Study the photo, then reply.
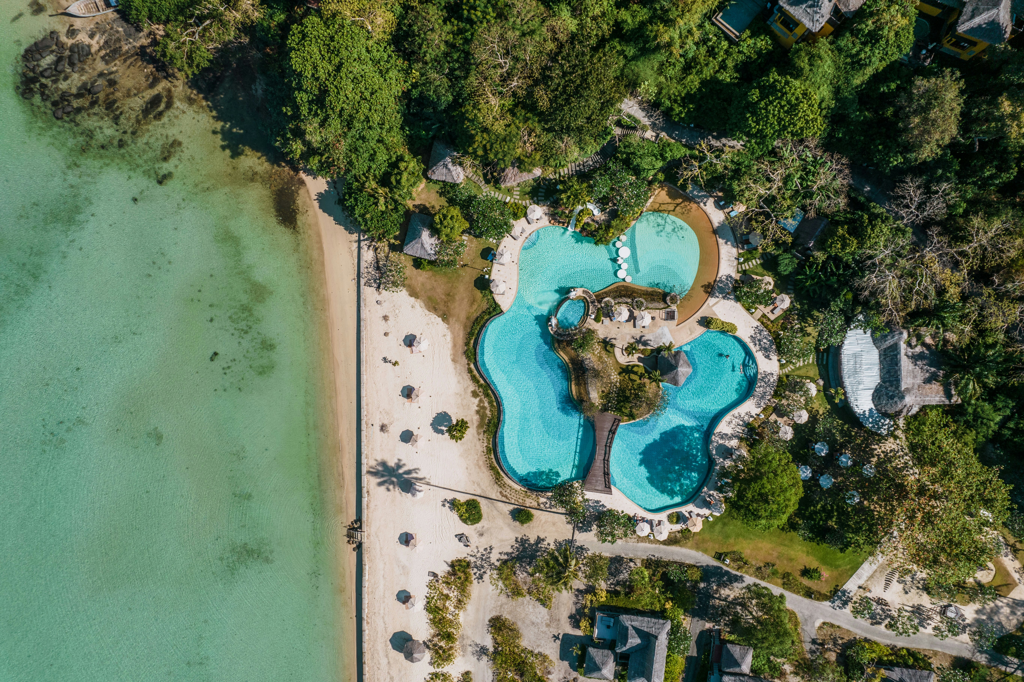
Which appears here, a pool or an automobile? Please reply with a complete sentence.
Looking from above, you can make out a pool.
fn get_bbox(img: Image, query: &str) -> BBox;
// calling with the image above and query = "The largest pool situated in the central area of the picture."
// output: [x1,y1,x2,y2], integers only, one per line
[479,211,758,513]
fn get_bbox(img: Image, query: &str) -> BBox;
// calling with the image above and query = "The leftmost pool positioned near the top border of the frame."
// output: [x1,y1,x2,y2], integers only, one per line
[711,0,774,40]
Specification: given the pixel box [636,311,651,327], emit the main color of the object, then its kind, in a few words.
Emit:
white umbrella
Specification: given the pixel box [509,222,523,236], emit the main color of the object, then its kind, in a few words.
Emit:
white umbrella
